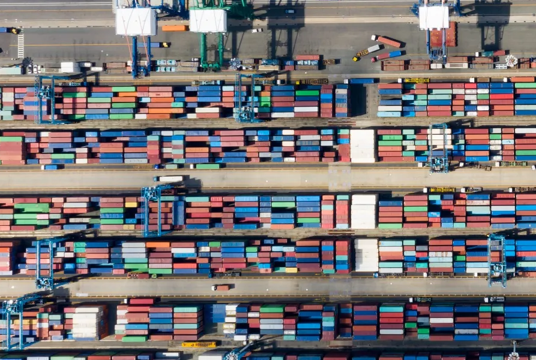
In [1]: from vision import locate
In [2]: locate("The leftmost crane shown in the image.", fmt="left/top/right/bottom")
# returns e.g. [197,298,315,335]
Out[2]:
[2,293,54,352]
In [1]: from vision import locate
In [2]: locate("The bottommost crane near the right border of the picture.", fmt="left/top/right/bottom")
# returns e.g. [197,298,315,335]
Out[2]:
[482,230,514,288]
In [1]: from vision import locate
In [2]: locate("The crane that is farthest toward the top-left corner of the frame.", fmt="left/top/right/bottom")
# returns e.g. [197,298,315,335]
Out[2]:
[35,74,86,125]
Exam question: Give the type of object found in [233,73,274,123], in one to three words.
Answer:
crane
